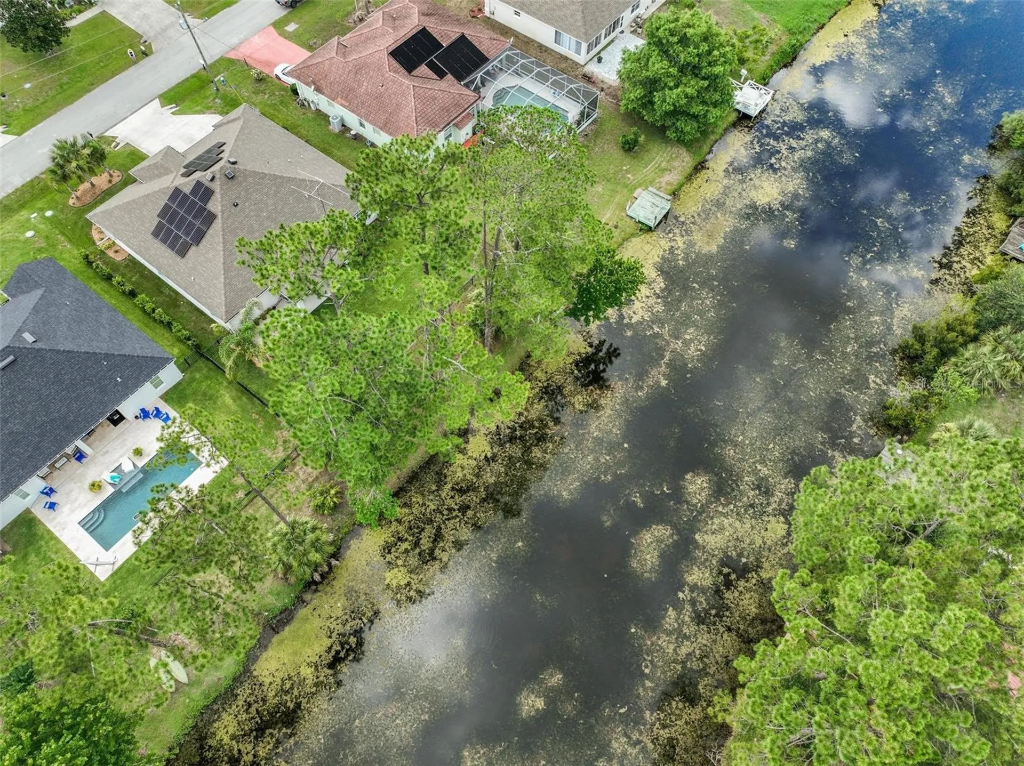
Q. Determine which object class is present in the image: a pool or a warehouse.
pool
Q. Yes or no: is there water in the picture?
Yes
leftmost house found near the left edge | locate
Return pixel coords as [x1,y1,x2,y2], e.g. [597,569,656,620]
[0,255,185,533]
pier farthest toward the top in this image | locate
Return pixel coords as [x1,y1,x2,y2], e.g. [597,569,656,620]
[723,71,783,123]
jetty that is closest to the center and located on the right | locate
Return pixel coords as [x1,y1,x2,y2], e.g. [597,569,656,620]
[626,185,680,237]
